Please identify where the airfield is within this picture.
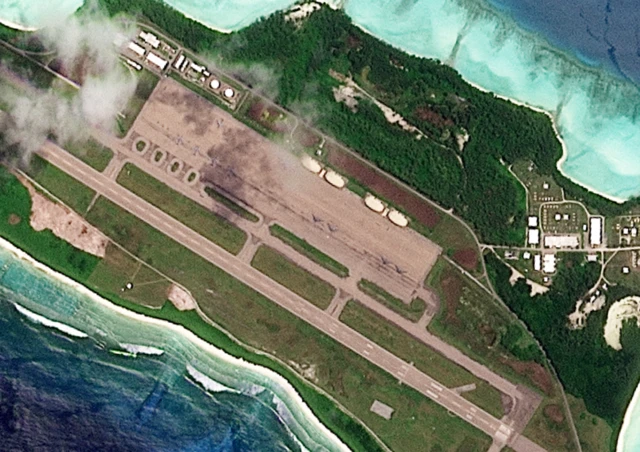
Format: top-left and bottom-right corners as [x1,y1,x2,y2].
[0,67,549,452]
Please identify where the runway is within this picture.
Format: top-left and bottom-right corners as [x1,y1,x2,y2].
[0,111,524,449]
